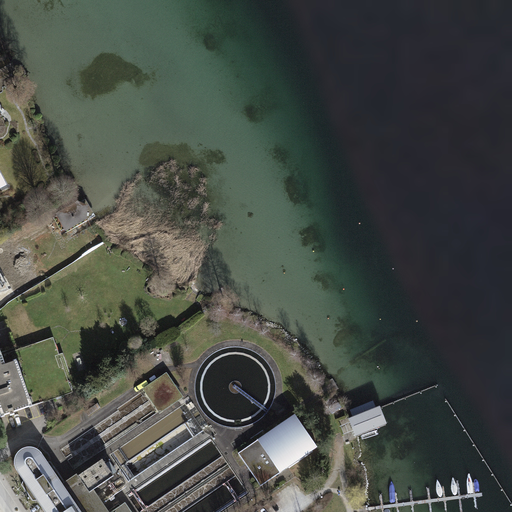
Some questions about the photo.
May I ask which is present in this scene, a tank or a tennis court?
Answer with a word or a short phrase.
tank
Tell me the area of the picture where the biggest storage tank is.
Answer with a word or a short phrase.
bottom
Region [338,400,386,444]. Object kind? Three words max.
building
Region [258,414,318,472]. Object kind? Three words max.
building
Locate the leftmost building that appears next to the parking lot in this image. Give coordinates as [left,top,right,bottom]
[0,358,30,414]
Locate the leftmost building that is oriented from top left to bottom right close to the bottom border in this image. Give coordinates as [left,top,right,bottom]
[12,447,82,512]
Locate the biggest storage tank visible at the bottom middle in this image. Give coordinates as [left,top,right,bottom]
[195,347,276,428]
